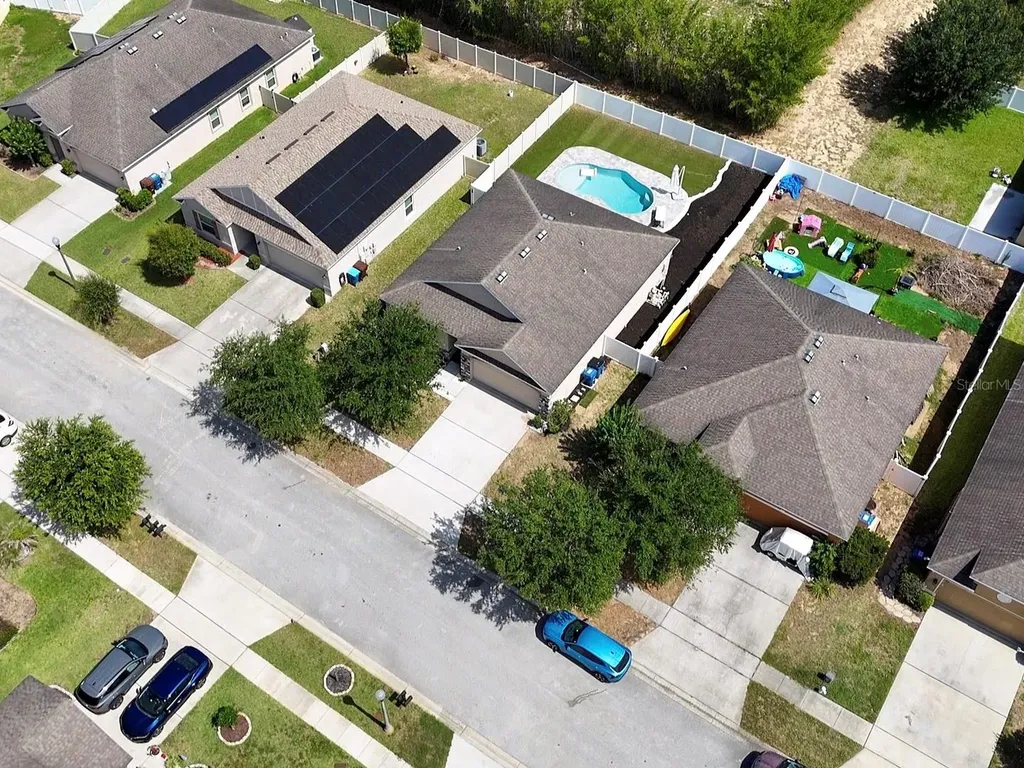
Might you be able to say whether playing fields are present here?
No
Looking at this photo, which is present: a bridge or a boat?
boat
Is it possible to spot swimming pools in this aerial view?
Yes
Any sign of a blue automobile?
Yes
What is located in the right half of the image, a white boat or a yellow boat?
yellow boat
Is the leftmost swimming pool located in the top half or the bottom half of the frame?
top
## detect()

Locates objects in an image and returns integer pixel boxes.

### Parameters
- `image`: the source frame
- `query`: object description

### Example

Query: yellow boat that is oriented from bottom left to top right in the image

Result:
[663,308,691,344]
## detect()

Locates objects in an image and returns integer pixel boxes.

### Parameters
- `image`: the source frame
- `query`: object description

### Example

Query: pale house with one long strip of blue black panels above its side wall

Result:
[0,0,316,196]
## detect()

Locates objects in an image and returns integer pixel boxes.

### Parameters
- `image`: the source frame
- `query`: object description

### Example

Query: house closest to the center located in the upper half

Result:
[378,169,679,417]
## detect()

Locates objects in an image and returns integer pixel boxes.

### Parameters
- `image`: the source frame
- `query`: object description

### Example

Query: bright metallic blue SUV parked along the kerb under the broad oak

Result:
[543,611,635,685]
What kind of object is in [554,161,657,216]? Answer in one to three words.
swimming pool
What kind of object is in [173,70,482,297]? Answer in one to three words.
house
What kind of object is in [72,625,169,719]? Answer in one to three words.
car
